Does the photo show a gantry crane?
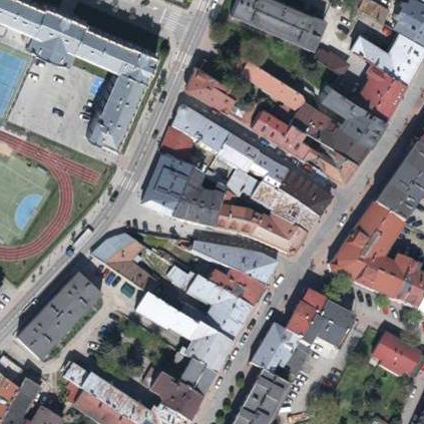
No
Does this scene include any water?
No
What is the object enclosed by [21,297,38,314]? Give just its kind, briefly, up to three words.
vehicle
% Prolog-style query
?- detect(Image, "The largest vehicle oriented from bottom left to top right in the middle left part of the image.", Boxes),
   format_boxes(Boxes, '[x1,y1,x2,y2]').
[68,225,96,255]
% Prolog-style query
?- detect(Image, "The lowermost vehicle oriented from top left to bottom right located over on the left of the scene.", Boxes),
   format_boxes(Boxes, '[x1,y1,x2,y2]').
[0,355,23,373]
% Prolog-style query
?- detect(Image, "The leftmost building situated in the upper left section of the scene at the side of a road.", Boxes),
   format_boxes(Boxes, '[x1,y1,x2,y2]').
[0,0,158,153]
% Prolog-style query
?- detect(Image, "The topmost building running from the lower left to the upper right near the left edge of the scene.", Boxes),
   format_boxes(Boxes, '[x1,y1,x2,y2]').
[17,271,102,360]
